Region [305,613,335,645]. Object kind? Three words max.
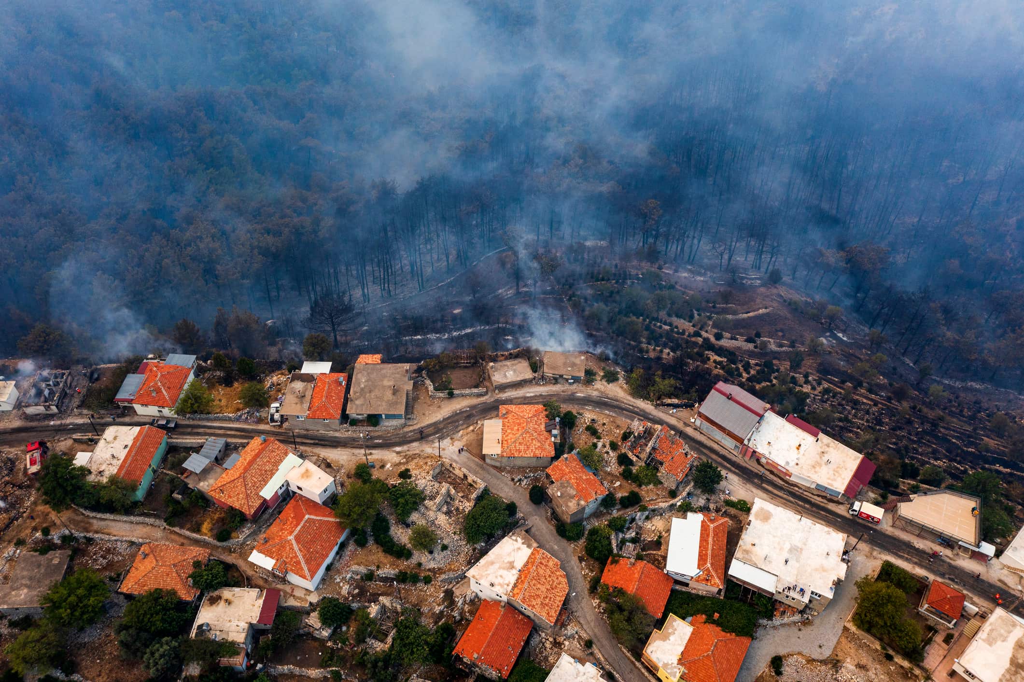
shed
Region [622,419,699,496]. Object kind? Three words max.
house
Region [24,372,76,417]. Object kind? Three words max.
house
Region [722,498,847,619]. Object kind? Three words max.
building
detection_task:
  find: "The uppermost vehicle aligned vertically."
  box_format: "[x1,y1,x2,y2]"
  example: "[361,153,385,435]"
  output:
[266,399,282,426]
